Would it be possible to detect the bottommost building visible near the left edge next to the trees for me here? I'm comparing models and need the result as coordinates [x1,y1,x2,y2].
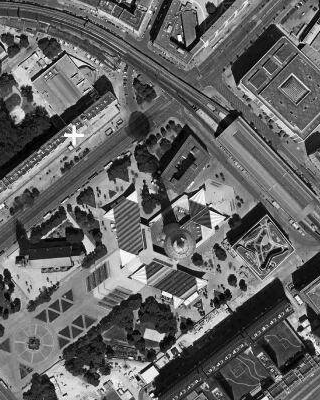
[15,245,86,274]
